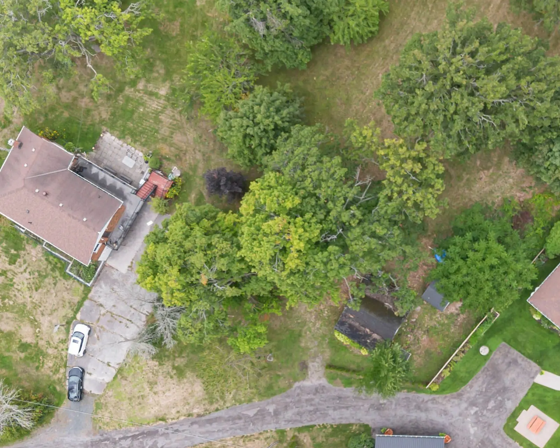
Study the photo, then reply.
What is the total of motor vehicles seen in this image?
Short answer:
2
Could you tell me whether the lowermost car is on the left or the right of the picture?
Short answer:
left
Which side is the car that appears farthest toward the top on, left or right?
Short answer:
left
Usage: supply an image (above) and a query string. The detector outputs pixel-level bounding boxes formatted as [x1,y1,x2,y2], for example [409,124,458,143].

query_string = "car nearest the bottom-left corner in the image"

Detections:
[65,365,85,402]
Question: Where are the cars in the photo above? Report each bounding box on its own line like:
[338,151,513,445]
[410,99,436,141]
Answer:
[69,321,93,359]
[65,365,85,402]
